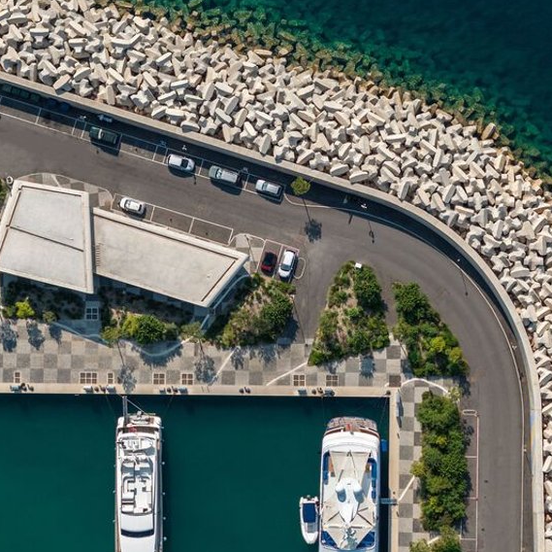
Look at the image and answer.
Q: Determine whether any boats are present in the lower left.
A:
Yes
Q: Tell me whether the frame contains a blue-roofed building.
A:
No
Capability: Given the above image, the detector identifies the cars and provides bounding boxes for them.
[208,164,239,183]
[279,248,296,279]
[87,126,119,145]
[254,178,283,195]
[117,198,146,214]
[165,153,194,171]
[261,250,277,274]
